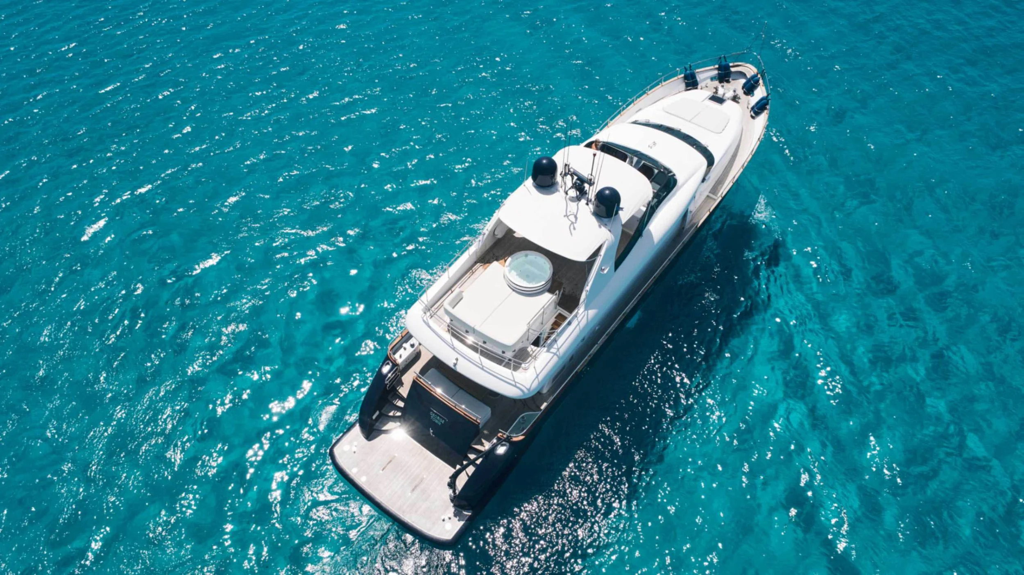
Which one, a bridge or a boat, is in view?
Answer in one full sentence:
The one in the frame is a boat.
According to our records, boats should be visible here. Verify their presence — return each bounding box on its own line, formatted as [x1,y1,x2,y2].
[335,20,774,544]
